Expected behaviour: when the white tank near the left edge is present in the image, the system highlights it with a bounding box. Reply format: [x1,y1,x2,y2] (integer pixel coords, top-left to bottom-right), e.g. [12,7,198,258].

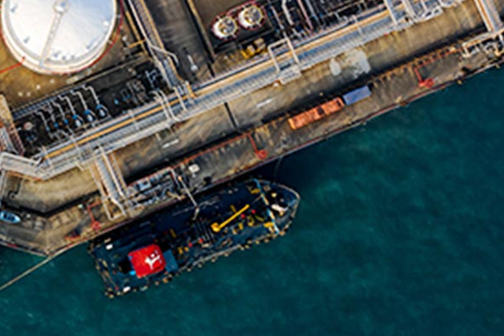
[0,0,124,75]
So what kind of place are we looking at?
industrial area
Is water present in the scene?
Yes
